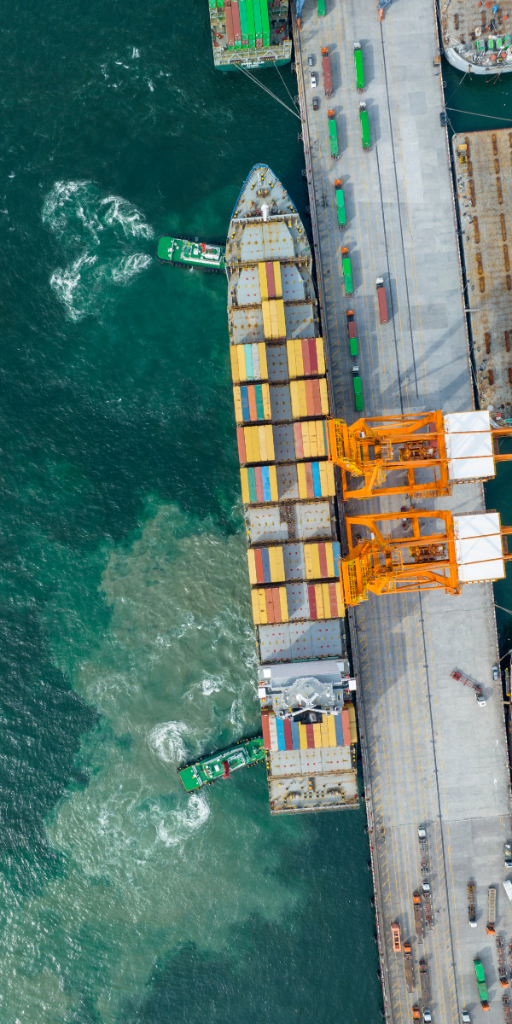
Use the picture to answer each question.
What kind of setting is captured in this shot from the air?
port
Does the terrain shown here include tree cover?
No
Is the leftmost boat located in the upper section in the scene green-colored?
Yes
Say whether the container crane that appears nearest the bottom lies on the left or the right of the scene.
right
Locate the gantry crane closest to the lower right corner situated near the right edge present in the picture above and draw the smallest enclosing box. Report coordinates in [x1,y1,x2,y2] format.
[339,508,512,597]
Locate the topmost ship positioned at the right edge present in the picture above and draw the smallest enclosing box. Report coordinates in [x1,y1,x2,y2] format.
[436,0,512,83]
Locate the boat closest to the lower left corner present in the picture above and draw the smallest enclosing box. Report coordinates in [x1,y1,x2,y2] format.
[175,740,264,793]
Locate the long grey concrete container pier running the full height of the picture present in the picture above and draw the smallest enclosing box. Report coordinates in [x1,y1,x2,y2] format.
[289,0,512,1024]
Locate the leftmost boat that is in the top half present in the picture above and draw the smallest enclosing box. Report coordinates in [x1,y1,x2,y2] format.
[155,236,226,272]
